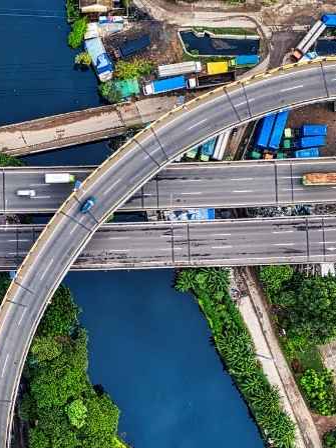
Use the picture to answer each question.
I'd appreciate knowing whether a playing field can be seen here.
No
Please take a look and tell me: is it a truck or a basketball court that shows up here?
truck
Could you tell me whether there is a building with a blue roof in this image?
Yes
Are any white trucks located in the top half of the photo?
Yes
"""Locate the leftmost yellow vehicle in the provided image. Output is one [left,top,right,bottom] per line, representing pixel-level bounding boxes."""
[195,62,230,78]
